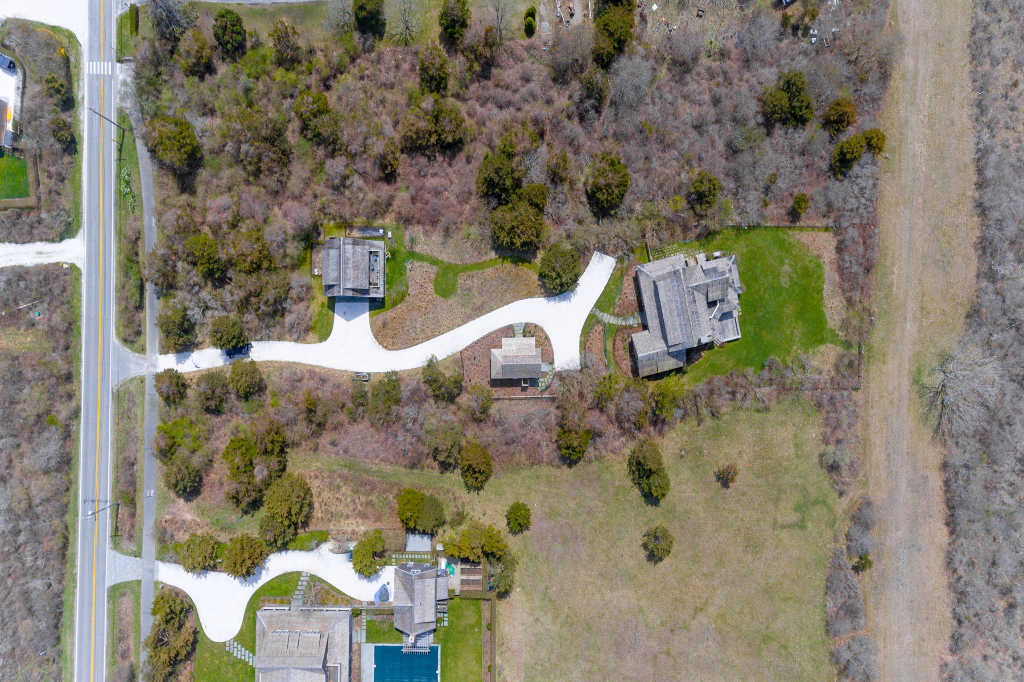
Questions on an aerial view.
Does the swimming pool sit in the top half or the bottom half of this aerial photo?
bottom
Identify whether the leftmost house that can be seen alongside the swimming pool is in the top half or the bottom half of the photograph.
bottom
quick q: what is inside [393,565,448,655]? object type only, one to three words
building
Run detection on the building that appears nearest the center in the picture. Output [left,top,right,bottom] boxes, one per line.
[491,338,541,386]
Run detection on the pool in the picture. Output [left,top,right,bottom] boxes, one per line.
[361,644,441,682]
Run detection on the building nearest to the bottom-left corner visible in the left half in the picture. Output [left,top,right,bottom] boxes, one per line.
[256,603,356,682]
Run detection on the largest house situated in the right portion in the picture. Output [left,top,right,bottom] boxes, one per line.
[631,251,742,377]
